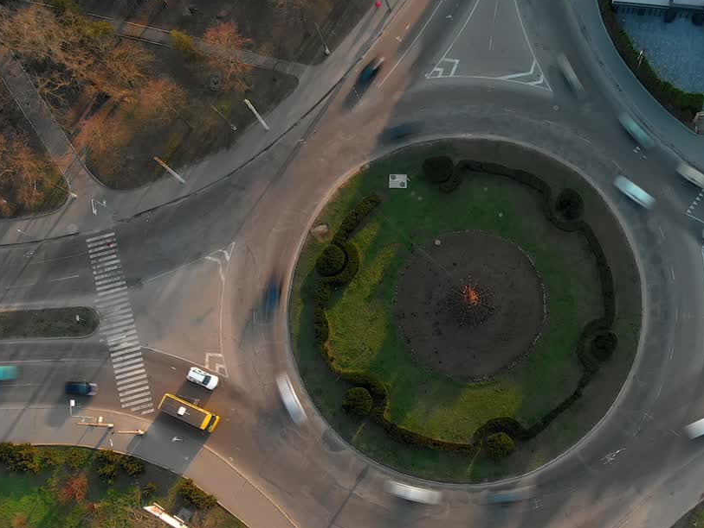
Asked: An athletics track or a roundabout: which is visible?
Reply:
roundabout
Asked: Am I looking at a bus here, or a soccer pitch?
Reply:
bus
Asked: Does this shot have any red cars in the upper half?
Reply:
No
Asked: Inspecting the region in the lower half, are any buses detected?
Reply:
Yes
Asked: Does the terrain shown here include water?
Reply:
No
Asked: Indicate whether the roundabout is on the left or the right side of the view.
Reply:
right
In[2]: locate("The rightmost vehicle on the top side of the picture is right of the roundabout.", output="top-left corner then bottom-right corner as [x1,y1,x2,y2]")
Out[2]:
[678,163,704,189]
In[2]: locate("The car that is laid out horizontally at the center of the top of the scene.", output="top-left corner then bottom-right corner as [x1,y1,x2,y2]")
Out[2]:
[383,121,417,140]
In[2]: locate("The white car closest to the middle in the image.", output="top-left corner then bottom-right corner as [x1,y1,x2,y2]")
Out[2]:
[275,377,306,422]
